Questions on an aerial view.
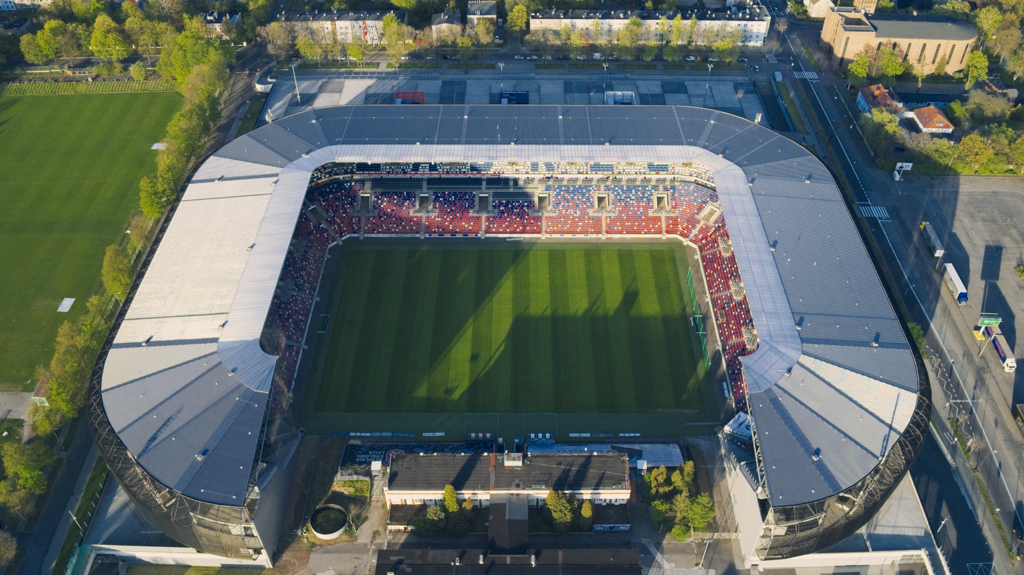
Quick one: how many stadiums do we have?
1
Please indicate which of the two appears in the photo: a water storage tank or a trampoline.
water storage tank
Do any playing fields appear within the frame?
Yes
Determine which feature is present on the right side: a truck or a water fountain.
truck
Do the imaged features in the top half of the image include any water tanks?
No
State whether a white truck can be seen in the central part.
No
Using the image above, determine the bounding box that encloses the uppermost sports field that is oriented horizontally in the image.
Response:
[315,249,705,413]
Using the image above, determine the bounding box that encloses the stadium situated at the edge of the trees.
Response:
[85,103,935,566]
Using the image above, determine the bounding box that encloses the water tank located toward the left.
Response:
[309,504,352,545]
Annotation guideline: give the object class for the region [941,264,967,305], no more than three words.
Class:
truck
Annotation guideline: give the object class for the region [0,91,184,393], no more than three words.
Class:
sports field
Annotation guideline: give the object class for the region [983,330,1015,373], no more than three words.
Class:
truck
